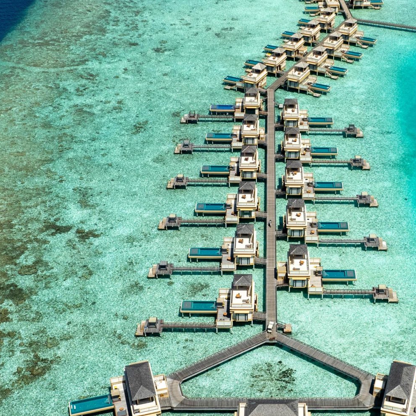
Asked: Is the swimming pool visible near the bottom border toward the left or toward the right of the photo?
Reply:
left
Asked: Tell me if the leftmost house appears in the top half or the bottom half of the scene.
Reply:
bottom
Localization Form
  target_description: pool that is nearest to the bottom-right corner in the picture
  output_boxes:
[322,269,357,282]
